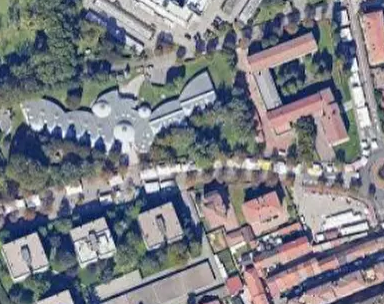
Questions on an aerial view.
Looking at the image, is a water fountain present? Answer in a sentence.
No, there is no water fountain in the image.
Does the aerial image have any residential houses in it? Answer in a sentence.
Yes, the photo shows a residential house.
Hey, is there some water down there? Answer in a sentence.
No, there is no water in the image.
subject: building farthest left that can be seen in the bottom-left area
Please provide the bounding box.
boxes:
[0,233,47,283]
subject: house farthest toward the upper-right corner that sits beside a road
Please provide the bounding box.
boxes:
[361,11,384,68]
